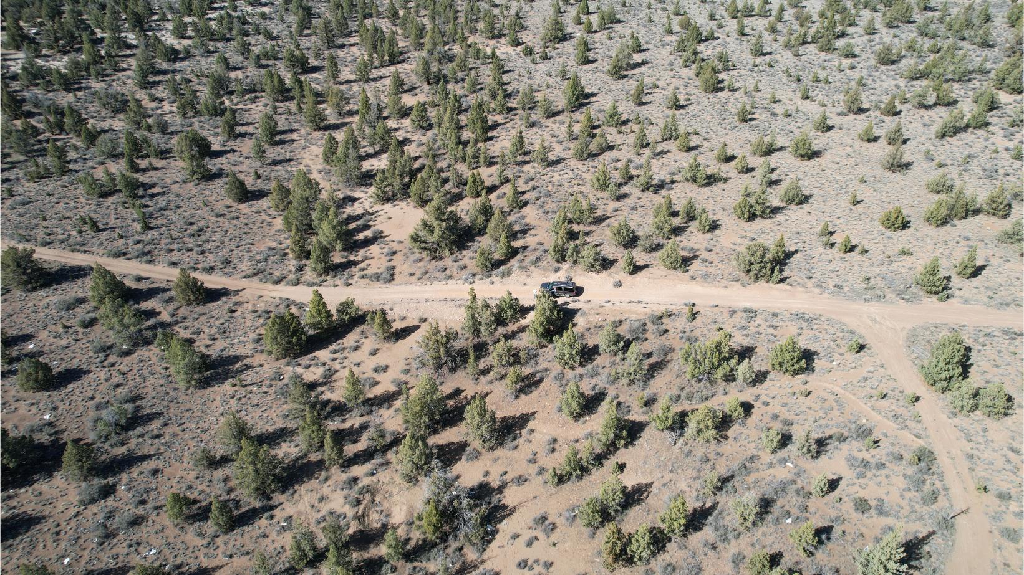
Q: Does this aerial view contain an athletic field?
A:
No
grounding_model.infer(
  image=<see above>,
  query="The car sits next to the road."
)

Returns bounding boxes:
[539,279,578,296]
